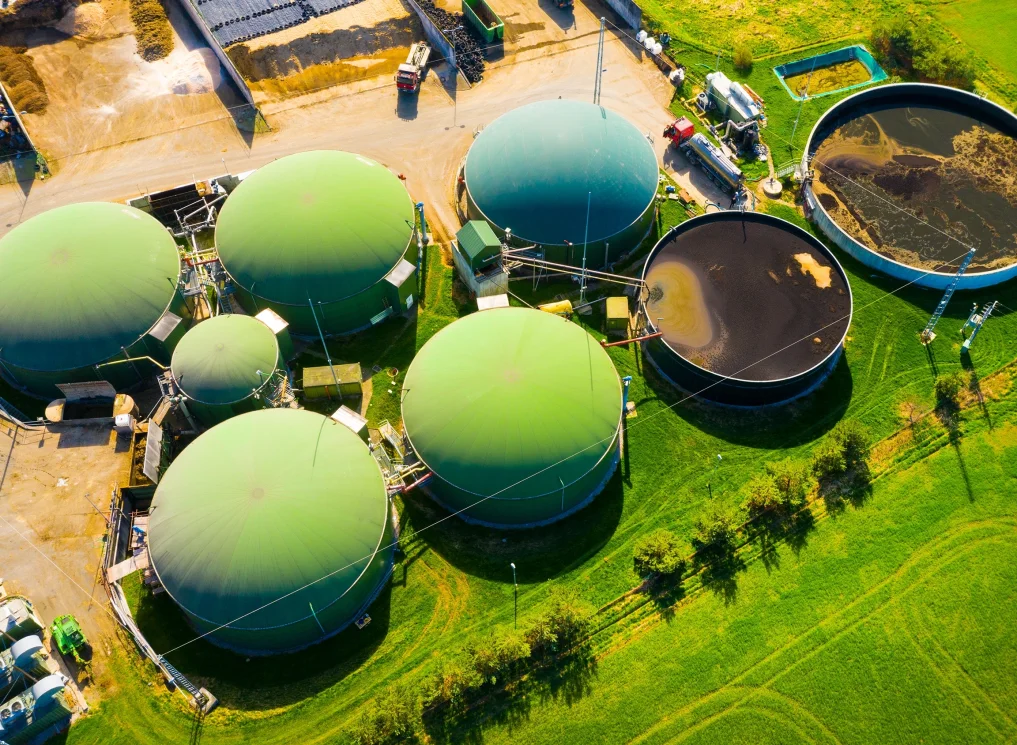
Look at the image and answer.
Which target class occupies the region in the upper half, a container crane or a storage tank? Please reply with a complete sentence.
You can see a storage tank in the upper half.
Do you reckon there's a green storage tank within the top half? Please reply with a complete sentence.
Yes, you'll find a green storage tank within the top half.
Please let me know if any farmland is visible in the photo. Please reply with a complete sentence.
Yes, the picture does contain farmland.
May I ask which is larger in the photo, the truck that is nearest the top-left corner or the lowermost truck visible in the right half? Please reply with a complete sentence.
The truck that is nearest the top-left corner is smaller than the lowermost truck visible in the right half.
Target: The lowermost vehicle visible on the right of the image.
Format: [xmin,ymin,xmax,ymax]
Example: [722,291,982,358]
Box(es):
[665,114,747,196]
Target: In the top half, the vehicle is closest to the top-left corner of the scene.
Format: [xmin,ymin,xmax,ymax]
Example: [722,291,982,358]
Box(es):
[392,38,429,93]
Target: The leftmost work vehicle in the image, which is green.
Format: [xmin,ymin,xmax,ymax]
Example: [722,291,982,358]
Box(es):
[50,607,93,669]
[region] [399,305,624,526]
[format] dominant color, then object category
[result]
green storage tank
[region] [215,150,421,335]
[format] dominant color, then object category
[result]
green storage tank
